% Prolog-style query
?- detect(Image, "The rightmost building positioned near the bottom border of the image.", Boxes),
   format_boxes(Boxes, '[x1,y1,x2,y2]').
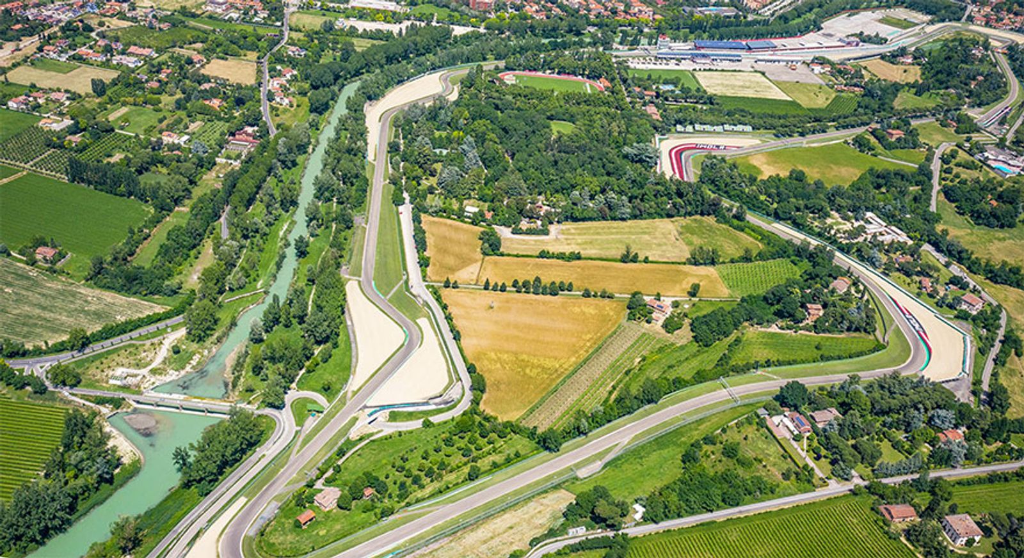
[944,514,983,545]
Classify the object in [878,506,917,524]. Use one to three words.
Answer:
barn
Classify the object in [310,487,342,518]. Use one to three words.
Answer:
house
